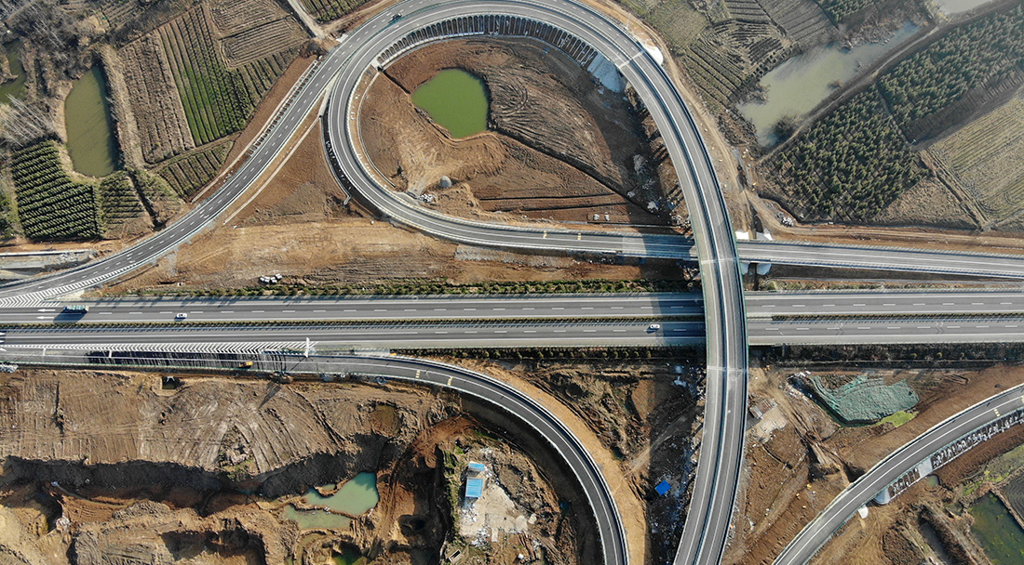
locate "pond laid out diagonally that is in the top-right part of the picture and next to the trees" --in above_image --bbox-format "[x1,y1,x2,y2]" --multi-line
[738,23,920,148]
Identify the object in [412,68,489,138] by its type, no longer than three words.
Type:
pond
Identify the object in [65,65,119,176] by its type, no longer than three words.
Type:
pond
